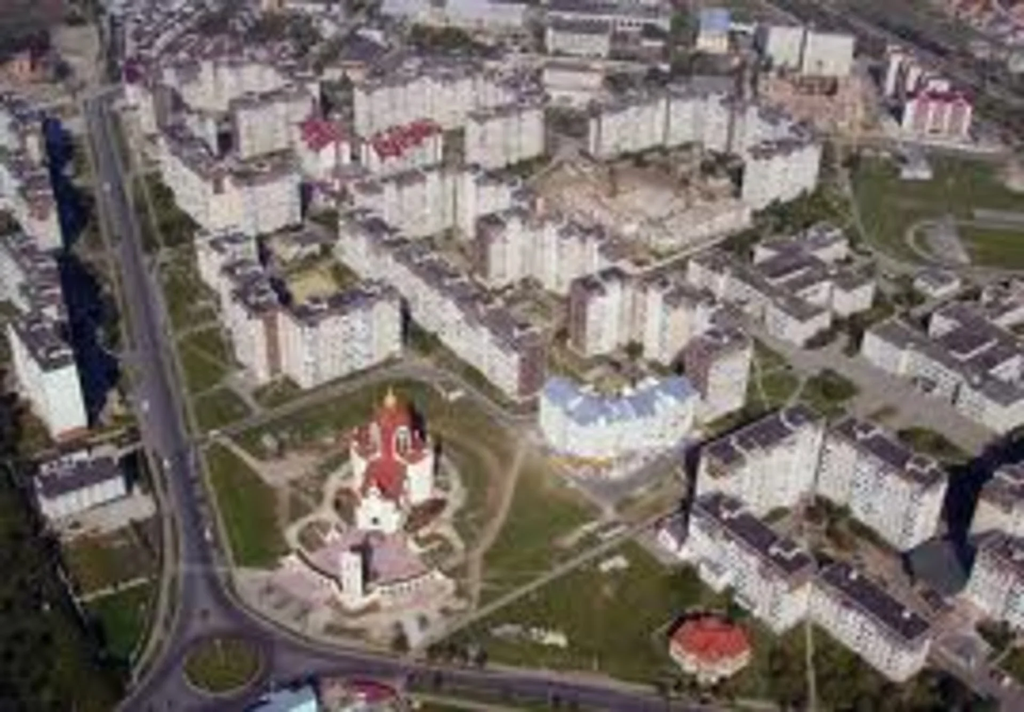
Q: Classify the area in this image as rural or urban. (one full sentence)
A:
This place is urban.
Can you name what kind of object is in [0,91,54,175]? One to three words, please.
building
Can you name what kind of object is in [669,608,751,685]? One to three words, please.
house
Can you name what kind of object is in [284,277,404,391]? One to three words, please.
building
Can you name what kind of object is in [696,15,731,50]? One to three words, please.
house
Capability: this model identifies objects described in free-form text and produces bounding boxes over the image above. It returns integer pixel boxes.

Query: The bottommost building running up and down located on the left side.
[334,536,365,611]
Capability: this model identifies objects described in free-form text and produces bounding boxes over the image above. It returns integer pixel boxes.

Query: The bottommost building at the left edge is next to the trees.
[42,452,132,521]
